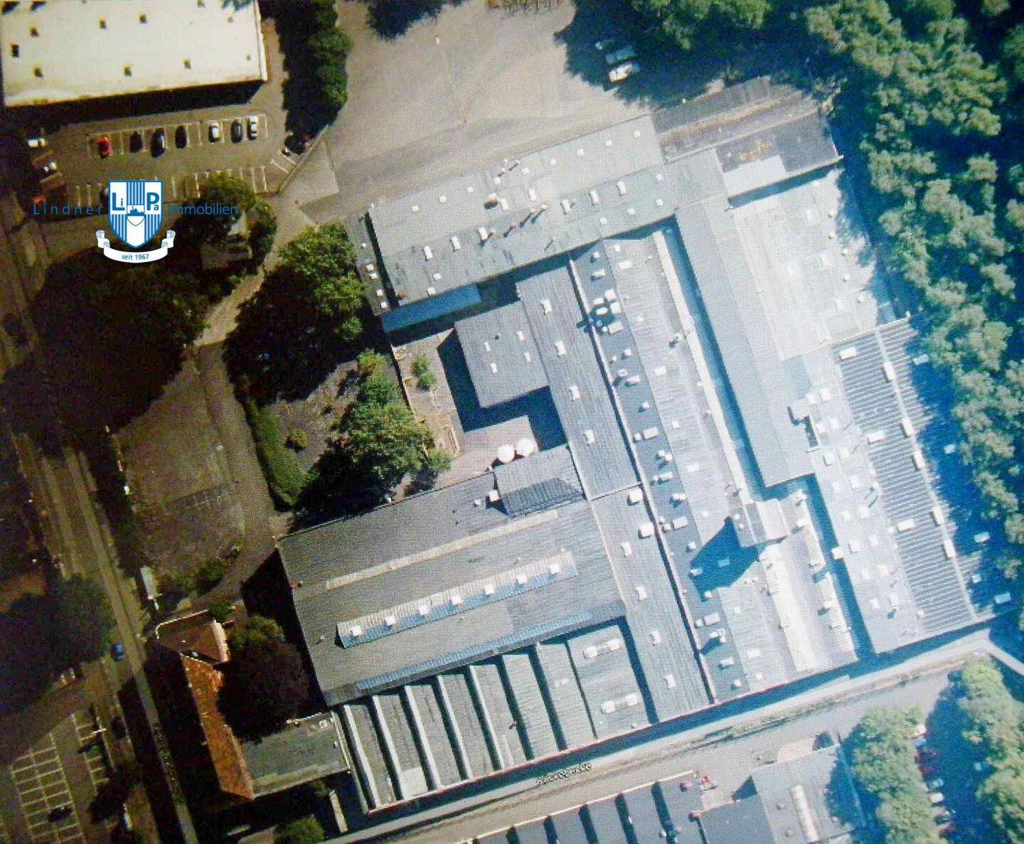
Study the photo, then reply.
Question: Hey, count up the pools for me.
zero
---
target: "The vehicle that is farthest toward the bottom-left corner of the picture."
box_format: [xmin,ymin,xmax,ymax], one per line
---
[48,806,71,822]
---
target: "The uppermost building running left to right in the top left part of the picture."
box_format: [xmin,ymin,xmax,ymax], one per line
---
[0,0,270,110]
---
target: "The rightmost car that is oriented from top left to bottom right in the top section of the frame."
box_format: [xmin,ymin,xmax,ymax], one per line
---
[279,138,296,157]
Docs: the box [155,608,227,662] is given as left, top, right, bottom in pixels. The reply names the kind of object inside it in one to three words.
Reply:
house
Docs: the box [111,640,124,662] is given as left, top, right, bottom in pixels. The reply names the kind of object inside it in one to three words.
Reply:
vehicle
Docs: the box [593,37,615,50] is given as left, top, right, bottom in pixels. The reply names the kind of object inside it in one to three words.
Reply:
vehicle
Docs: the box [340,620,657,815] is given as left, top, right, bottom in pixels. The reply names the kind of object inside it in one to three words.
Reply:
building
